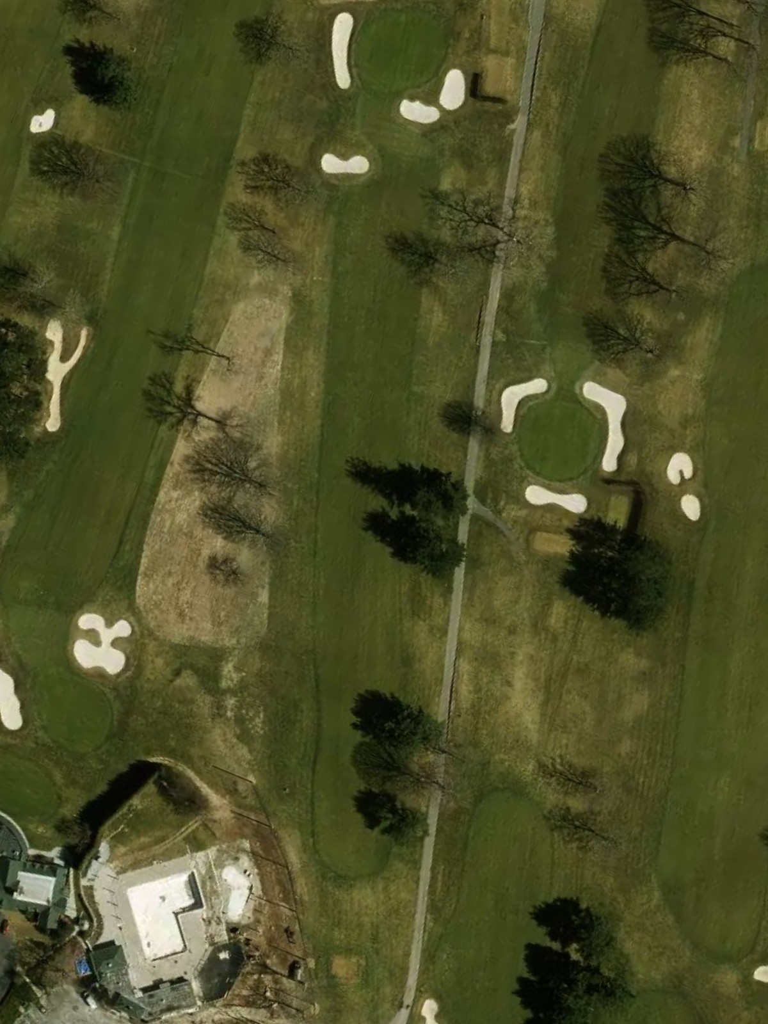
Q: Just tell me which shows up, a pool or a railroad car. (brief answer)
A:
pool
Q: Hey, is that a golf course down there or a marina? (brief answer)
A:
golf course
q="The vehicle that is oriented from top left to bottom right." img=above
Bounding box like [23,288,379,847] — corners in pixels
[82,993,96,1009]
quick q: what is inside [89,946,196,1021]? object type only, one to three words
building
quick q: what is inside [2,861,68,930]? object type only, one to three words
building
